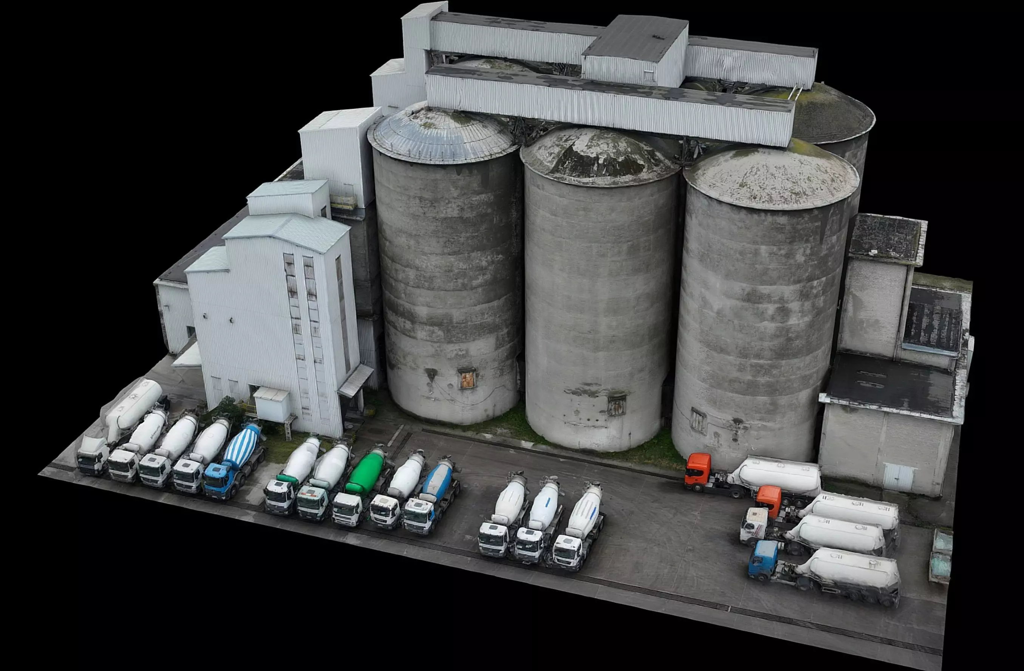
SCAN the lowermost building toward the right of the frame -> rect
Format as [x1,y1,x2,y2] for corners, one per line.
[816,350,970,498]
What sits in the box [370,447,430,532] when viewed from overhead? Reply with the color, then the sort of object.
white truck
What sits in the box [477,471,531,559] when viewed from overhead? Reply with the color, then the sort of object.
white truck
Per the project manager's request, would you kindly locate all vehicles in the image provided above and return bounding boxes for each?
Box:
[370,447,430,532]
[203,421,268,502]
[263,434,326,517]
[513,476,565,566]
[108,406,172,486]
[737,505,887,557]
[684,446,823,509]
[296,440,356,524]
[552,484,605,574]
[173,416,235,497]
[72,382,170,483]
[752,480,897,549]
[404,450,460,535]
[332,444,391,528]
[140,411,204,491]
[744,537,900,606]
[477,471,531,559]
